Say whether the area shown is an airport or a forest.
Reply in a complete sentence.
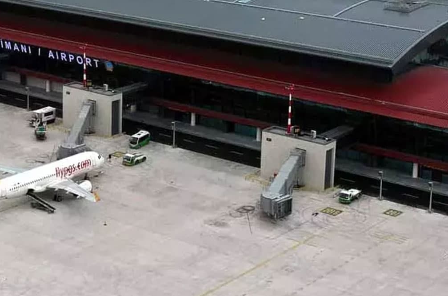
It's an airport.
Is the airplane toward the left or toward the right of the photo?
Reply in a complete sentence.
It is on the left.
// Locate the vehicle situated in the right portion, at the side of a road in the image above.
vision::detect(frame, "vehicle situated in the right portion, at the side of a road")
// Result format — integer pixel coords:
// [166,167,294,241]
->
[337,188,364,204]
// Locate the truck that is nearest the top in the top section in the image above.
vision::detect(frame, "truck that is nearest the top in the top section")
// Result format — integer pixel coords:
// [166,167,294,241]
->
[29,102,59,127]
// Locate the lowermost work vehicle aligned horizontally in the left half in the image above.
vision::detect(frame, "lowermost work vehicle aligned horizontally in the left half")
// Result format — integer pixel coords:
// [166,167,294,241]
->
[121,151,149,164]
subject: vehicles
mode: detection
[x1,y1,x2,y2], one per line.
[337,188,364,204]
[127,128,153,147]
[29,102,59,127]
[33,128,48,139]
[20,190,51,221]
[121,151,149,164]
